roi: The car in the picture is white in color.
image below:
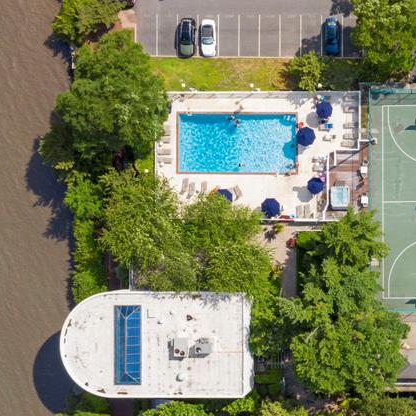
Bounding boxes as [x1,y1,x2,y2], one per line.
[198,19,217,57]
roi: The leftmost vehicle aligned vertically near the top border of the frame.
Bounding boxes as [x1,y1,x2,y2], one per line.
[177,18,196,57]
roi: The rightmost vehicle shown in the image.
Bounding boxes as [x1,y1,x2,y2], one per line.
[323,19,340,54]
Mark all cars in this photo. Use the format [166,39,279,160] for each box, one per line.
[198,19,217,57]
[107,0,139,8]
[323,19,340,54]
[177,18,196,57]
